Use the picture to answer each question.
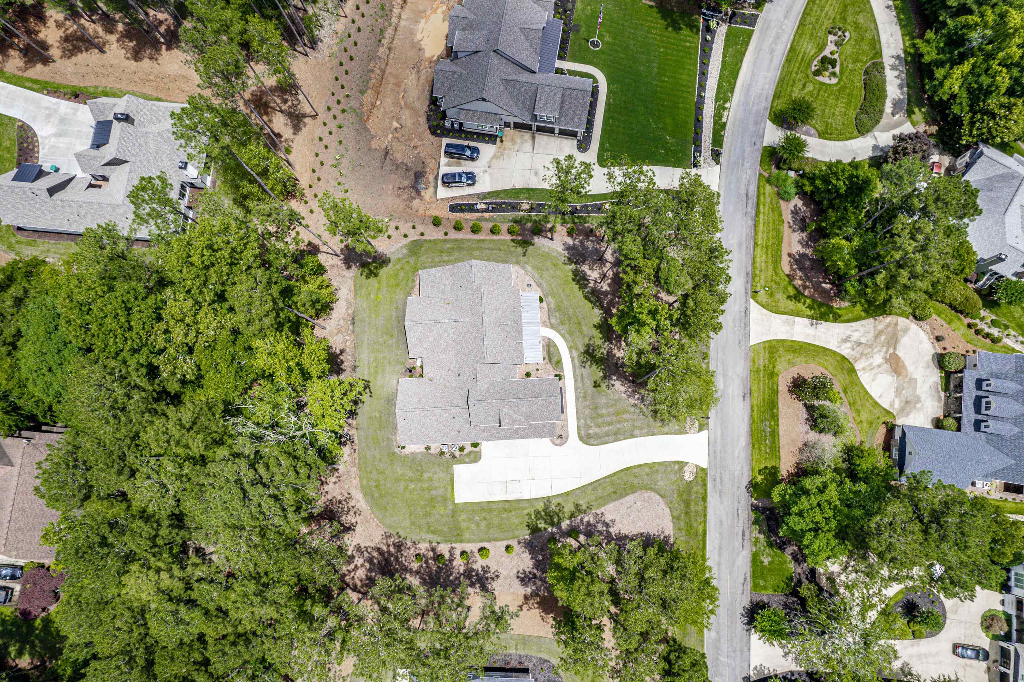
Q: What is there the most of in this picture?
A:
trees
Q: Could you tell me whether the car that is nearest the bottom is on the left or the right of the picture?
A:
right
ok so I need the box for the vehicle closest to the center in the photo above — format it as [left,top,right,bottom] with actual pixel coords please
[443,171,475,188]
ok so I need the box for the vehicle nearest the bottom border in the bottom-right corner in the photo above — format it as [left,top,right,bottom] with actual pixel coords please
[954,642,990,665]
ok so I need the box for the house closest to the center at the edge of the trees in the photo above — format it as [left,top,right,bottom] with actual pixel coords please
[396,260,564,446]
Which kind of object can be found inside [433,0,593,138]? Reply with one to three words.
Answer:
house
